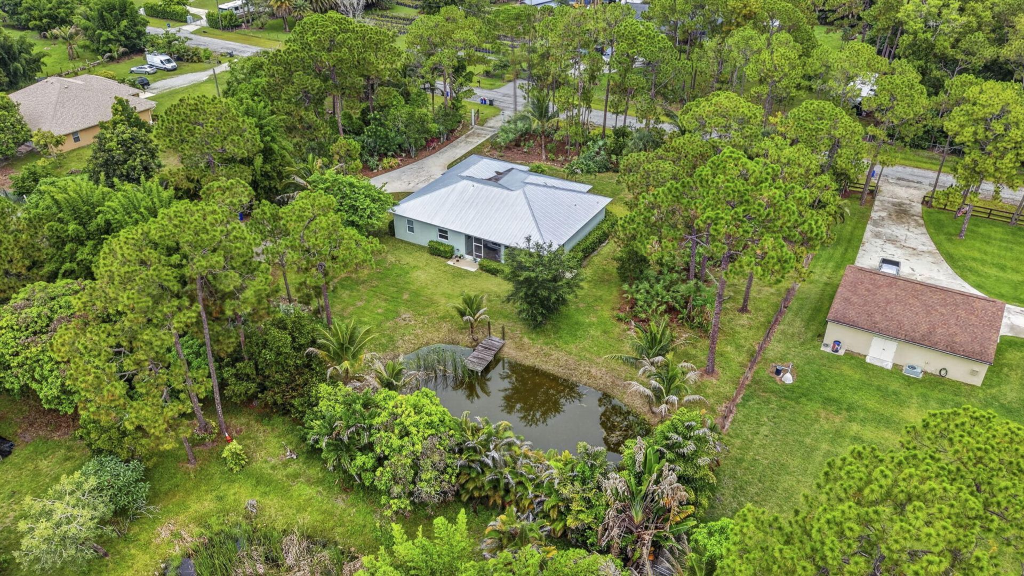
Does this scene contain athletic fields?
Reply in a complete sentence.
No, the photo shows no athletic field.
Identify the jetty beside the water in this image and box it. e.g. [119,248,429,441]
[463,324,507,377]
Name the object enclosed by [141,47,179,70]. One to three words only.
vehicle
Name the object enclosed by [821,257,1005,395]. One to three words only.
shed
